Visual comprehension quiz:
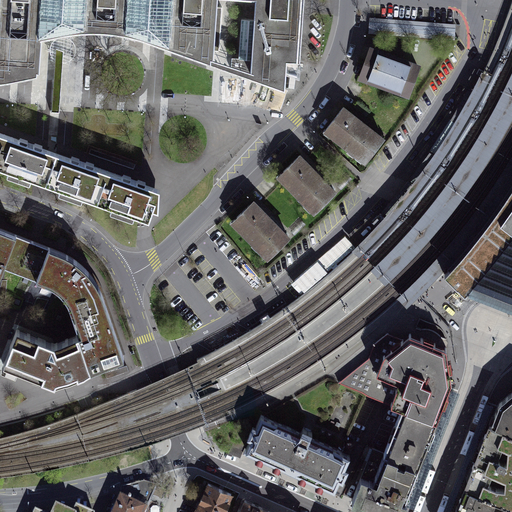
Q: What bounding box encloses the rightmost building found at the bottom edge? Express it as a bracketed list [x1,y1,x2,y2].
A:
[456,387,512,512]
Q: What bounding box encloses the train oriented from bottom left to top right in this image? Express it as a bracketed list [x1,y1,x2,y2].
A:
[365,26,512,256]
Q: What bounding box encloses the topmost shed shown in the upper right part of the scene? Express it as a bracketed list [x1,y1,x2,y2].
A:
[368,17,456,38]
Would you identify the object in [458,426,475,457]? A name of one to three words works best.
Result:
vehicle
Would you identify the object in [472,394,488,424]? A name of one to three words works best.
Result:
vehicle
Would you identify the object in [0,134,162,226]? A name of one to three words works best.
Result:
building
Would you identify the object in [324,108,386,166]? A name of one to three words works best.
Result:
house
